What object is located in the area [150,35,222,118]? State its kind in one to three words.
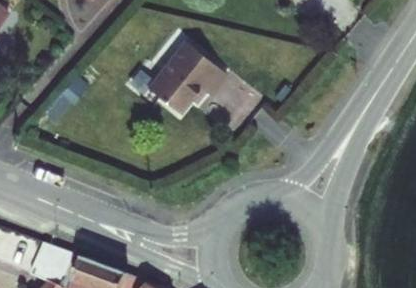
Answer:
house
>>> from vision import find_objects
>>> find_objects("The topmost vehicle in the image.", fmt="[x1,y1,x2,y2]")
[36,166,64,182]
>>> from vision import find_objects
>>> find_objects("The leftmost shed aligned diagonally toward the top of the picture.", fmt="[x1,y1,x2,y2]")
[50,78,86,120]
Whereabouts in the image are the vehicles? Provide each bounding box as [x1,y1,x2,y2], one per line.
[15,240,27,263]
[36,166,64,182]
